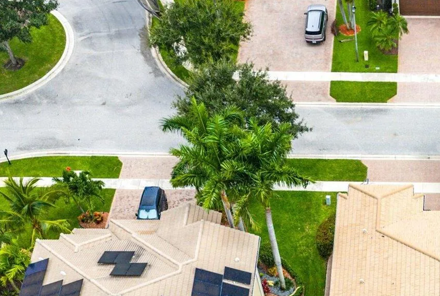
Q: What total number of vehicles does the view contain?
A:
2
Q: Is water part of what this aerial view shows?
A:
No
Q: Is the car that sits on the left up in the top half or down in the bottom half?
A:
bottom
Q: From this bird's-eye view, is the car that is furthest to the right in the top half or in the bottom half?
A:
top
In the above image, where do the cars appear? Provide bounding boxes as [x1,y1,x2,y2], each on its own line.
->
[139,183,171,217]
[305,3,328,39]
